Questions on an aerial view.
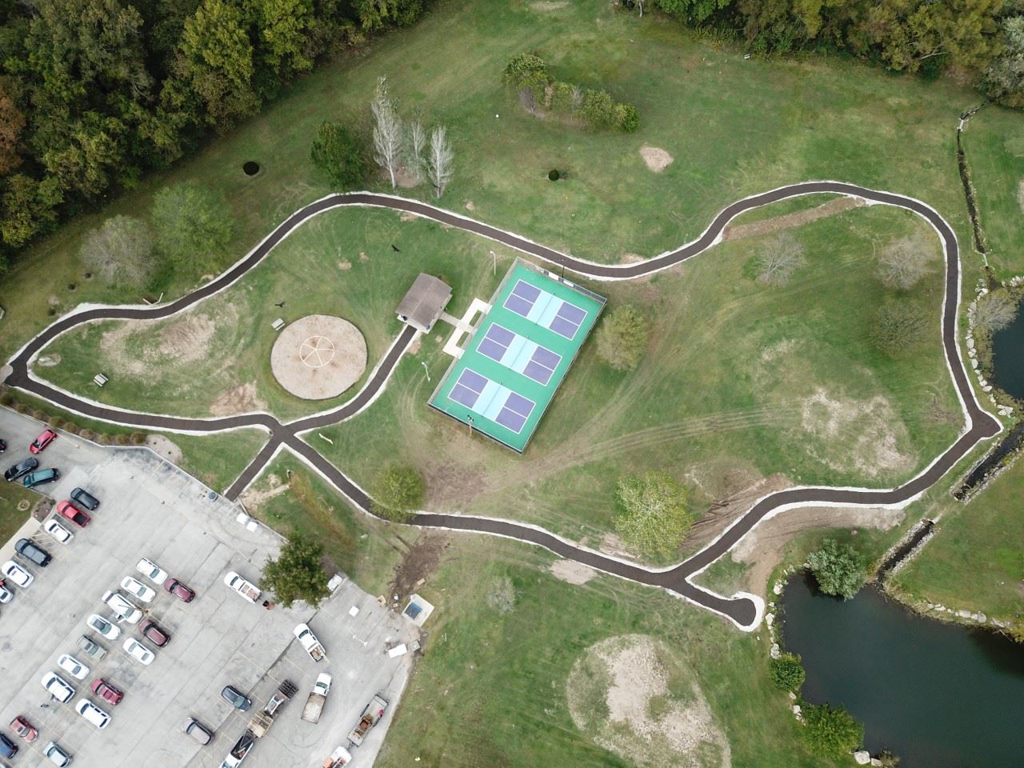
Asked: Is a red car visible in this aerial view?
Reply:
Yes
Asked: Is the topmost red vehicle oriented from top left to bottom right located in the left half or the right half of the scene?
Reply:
left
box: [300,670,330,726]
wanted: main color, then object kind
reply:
white truck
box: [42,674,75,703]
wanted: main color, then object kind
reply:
white car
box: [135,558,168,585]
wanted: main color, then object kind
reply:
white vehicle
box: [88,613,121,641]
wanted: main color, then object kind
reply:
white car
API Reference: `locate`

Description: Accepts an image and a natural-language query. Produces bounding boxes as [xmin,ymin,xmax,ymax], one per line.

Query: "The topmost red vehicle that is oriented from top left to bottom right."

[56,501,90,529]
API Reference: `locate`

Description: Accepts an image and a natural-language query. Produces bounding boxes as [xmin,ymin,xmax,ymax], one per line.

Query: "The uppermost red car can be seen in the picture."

[30,427,58,457]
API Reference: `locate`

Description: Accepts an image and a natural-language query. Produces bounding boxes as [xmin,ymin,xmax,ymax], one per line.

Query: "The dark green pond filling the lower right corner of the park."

[780,573,1024,768]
